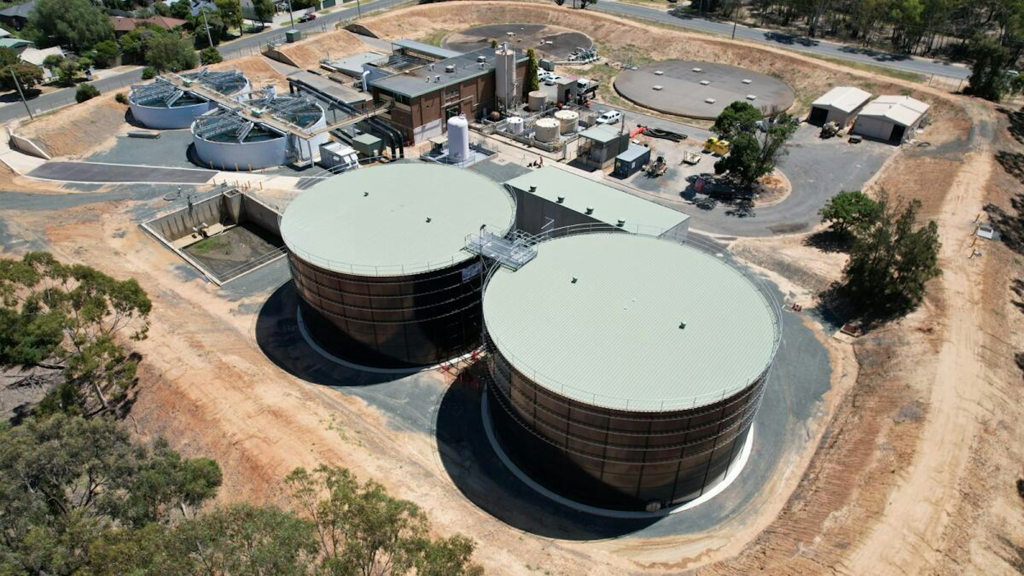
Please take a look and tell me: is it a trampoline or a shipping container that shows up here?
shipping container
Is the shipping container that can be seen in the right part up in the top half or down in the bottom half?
top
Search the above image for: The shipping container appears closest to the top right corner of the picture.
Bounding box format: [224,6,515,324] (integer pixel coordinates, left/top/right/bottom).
[614,146,651,177]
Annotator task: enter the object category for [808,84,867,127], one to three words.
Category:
shed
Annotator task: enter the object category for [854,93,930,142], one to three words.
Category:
shed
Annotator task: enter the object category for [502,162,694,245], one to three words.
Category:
building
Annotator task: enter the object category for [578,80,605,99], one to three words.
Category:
vehicle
